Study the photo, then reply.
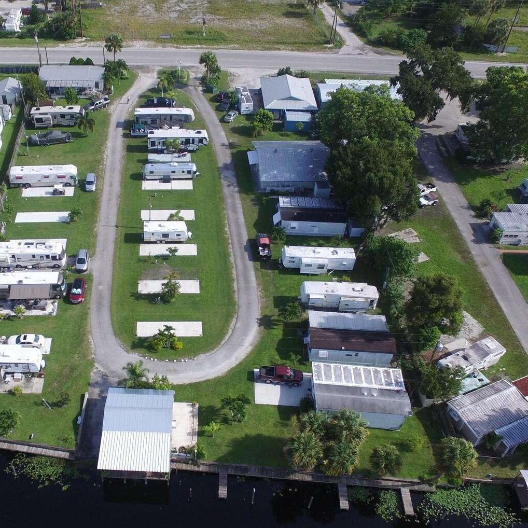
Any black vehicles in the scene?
Yes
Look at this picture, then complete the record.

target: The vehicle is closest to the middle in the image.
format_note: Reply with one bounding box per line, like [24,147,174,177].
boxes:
[255,232,274,260]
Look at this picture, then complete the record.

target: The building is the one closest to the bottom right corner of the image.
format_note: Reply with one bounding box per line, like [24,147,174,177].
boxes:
[448,380,528,460]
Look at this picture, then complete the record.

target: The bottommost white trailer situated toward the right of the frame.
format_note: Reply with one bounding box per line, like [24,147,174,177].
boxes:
[301,282,380,315]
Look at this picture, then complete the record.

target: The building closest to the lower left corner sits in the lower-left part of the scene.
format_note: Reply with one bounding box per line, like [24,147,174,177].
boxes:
[98,387,174,489]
